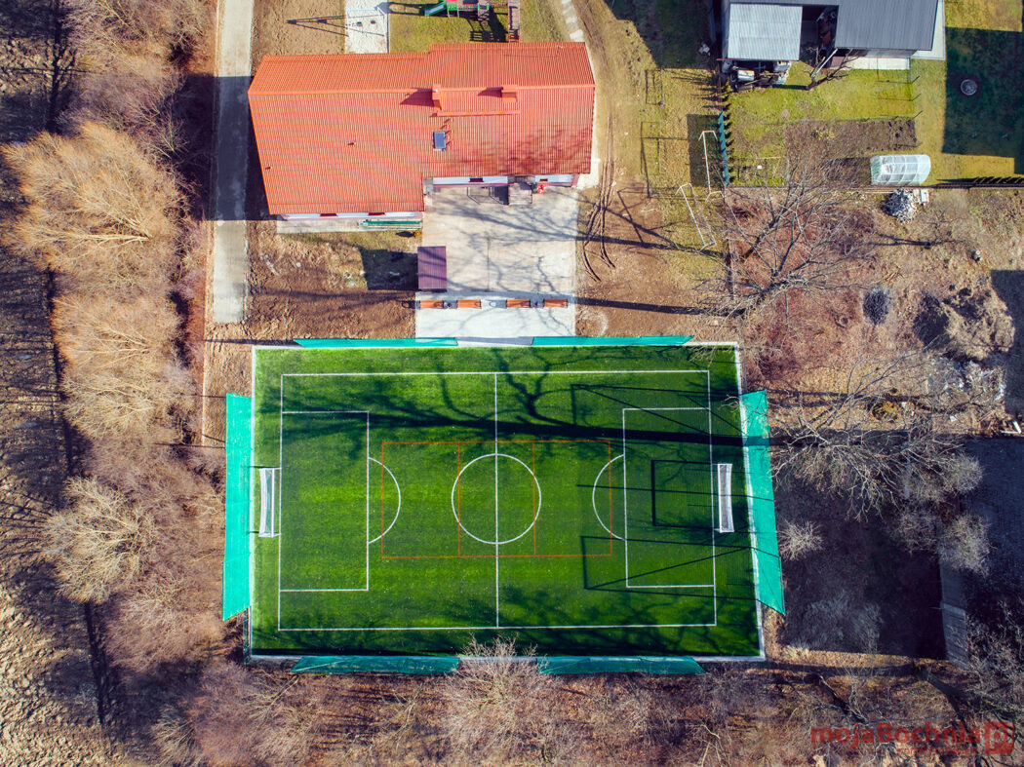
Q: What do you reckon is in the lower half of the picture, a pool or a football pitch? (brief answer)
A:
football pitch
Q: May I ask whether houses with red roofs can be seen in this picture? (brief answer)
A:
Yes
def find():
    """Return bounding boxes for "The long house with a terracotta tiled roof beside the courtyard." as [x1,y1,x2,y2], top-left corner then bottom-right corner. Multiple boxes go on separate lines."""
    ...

[248,39,596,220]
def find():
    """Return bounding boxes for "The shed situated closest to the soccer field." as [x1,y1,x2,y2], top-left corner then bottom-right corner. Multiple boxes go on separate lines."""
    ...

[418,247,447,294]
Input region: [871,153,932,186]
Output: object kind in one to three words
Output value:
greenhouse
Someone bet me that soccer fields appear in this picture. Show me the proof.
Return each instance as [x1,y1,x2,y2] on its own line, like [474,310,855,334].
[247,343,765,661]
